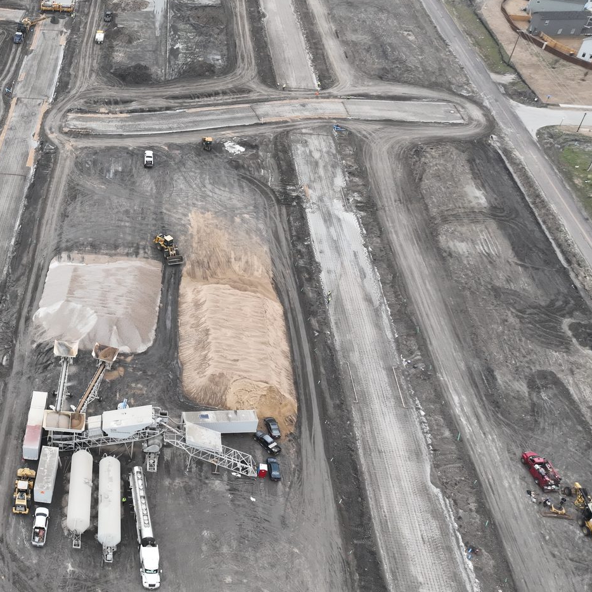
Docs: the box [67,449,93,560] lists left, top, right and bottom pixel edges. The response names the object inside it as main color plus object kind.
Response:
white silo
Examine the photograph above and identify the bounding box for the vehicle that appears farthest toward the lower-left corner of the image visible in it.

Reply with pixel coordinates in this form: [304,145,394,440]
[32,507,49,547]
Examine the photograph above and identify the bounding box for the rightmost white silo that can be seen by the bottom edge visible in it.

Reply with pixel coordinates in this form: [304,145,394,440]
[97,456,120,578]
